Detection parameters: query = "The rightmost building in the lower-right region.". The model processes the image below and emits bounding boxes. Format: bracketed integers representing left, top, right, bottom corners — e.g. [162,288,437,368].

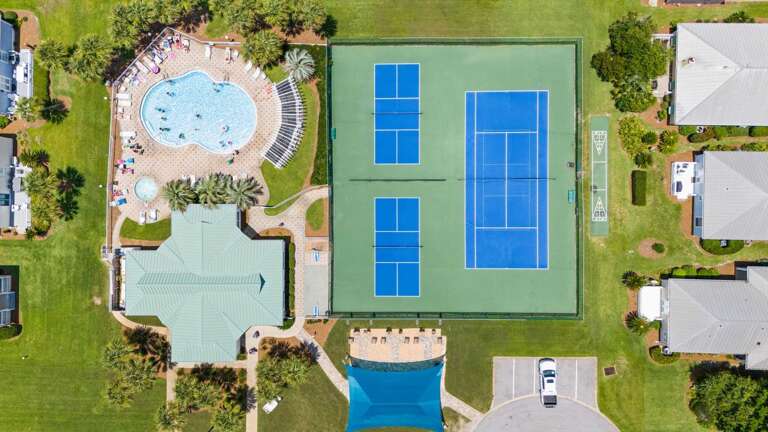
[659,266,768,369]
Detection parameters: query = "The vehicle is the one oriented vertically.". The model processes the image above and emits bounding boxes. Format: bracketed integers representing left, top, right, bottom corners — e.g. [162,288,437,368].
[541,358,562,406]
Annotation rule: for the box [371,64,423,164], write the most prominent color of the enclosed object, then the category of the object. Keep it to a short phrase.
blue sports court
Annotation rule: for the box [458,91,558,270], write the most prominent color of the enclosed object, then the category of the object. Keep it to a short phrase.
blue tennis court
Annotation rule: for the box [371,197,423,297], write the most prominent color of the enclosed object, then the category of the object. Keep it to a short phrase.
blue sports court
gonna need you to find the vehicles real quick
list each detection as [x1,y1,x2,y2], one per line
[262,394,284,415]
[541,358,562,406]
